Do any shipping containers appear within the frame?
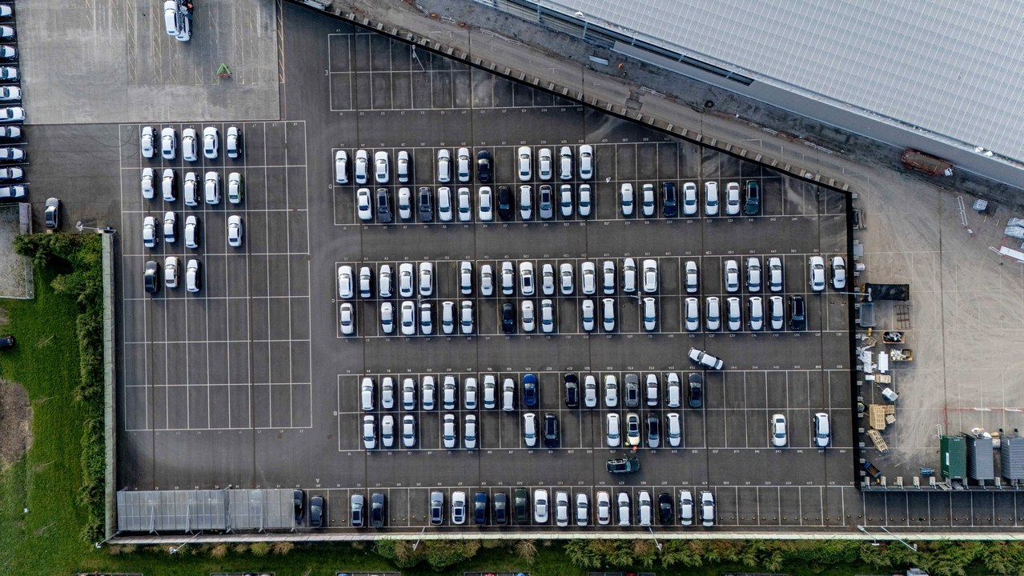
Yes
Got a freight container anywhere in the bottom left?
No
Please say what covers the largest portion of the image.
paved ground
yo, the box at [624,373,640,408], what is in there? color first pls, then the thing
gray car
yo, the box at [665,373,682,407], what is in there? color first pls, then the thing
white car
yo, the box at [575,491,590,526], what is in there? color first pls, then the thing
white car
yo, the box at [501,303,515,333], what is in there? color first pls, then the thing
black car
